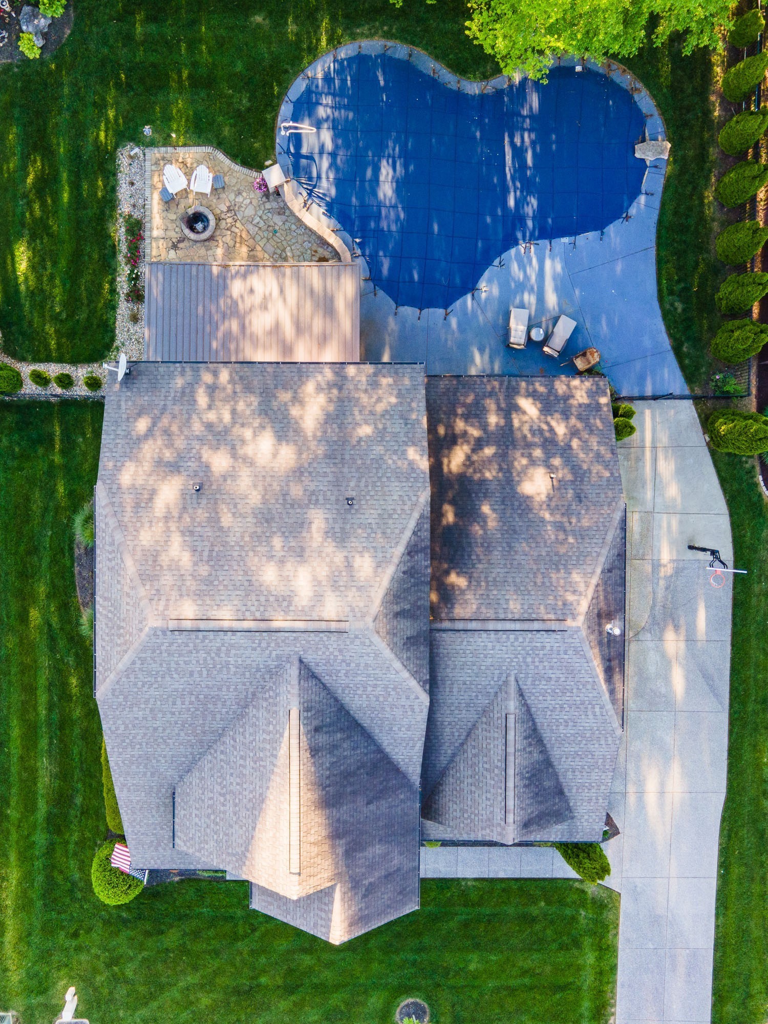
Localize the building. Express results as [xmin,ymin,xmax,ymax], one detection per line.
[93,361,629,944]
